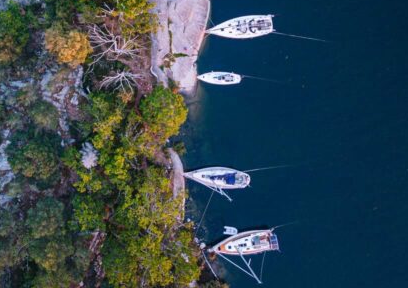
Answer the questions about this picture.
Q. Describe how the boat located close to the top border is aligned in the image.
from left to right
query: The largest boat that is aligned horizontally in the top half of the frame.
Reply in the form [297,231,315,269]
[205,13,276,39]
